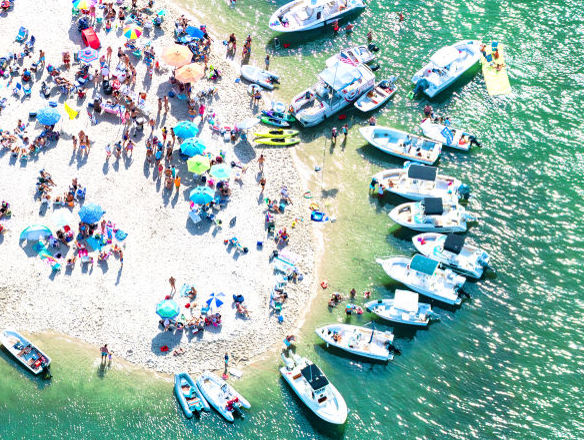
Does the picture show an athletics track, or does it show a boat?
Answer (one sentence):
Of the two, only a boat appears.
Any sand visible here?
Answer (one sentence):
Yes, sand shows up in the scene.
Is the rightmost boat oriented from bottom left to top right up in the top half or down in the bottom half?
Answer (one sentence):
The rightmost boat oriented from bottom left to top right sits in the top half of the picture.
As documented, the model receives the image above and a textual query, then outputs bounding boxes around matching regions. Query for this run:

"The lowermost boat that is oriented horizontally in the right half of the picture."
[317,324,405,364]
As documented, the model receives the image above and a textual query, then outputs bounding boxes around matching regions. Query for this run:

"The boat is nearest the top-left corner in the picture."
[241,63,284,92]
